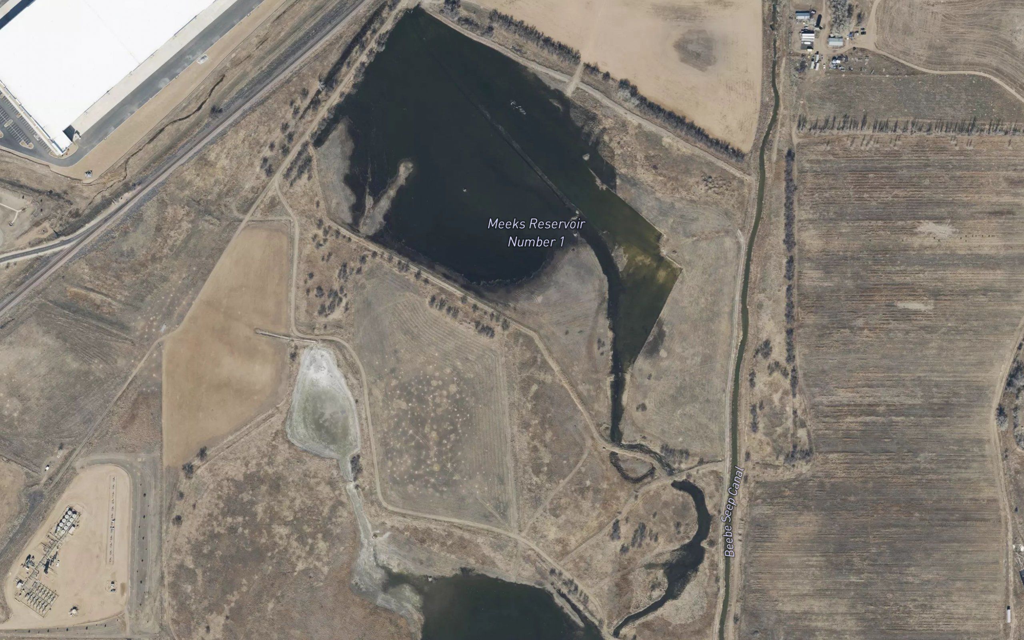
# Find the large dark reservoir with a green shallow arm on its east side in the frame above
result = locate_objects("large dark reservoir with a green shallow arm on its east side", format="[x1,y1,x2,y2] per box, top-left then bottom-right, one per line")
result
[314,6,682,444]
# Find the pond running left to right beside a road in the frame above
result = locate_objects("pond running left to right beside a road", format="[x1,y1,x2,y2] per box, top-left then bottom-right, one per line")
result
[379,565,604,640]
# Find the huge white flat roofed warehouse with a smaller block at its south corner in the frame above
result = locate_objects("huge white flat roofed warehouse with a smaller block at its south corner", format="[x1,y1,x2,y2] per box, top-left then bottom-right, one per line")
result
[0,0,217,156]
